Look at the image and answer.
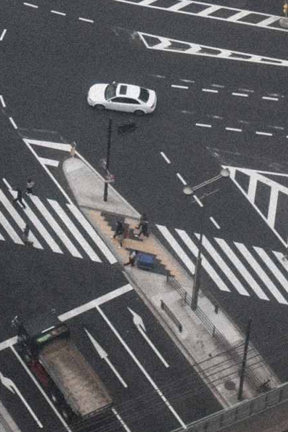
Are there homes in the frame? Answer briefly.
No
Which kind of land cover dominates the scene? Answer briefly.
paved ground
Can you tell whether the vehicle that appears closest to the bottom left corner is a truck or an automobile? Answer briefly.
truck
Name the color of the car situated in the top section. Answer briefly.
white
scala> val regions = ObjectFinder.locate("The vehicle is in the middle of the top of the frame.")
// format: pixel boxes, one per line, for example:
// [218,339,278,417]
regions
[85,78,161,117]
